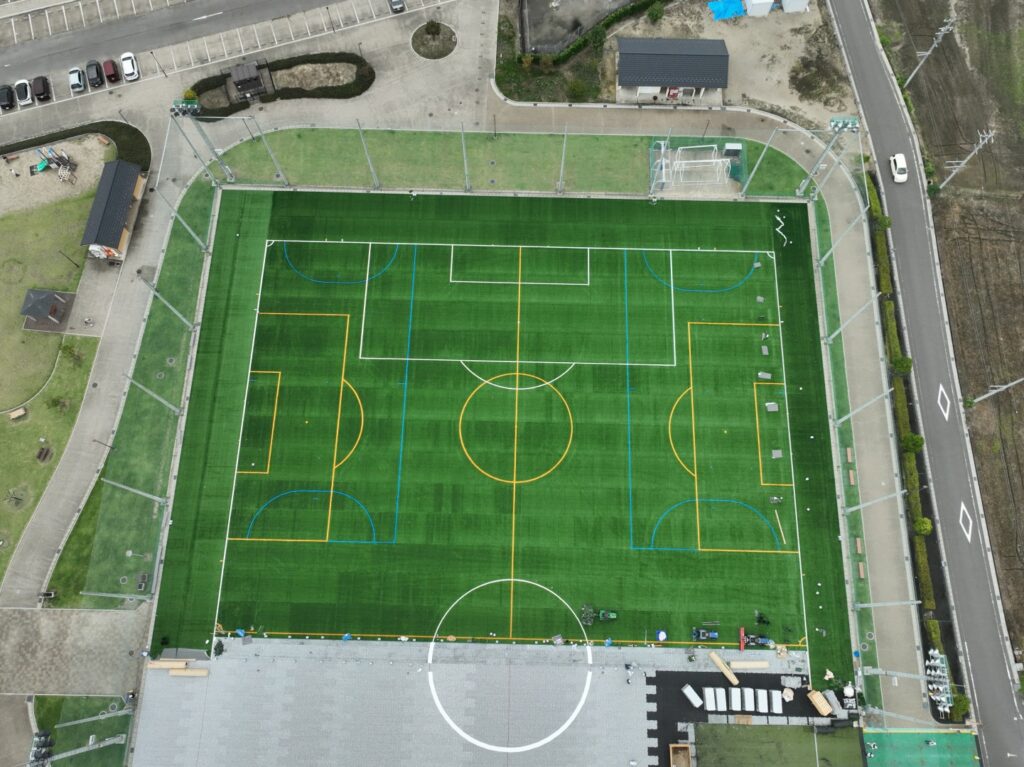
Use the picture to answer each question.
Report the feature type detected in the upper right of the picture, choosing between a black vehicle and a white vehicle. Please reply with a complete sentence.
You can see a white vehicle in the upper right of the picture.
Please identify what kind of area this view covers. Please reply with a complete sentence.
It's a sports ground.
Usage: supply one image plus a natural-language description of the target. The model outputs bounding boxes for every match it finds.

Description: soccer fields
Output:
[132,190,858,767]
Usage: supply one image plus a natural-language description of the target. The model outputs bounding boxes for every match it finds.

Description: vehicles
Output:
[32,77,51,103]
[103,61,120,84]
[121,53,140,82]
[0,84,16,113]
[68,68,86,94]
[691,625,722,642]
[86,61,105,89]
[581,603,622,624]
[888,154,908,184]
[15,81,34,108]
[740,624,774,651]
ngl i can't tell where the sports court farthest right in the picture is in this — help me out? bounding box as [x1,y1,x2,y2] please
[862,720,988,767]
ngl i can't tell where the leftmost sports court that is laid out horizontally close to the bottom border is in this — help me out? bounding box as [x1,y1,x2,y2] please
[695,724,866,767]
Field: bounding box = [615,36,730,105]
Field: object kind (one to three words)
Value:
building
